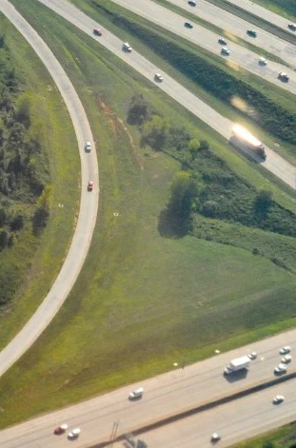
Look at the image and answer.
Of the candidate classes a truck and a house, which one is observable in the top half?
truck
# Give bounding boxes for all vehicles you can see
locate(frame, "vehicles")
[217,39,227,45]
[67,428,81,438]
[245,30,257,37]
[127,389,144,399]
[257,58,268,65]
[208,434,222,442]
[280,355,293,363]
[272,396,285,404]
[229,125,266,159]
[154,73,163,81]
[122,43,132,50]
[184,22,193,28]
[225,356,250,374]
[52,424,69,434]
[278,346,291,354]
[273,364,288,373]
[277,73,289,81]
[220,47,230,55]
[246,352,258,359]
[187,0,197,6]
[85,142,90,151]
[92,29,102,35]
[87,181,92,190]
